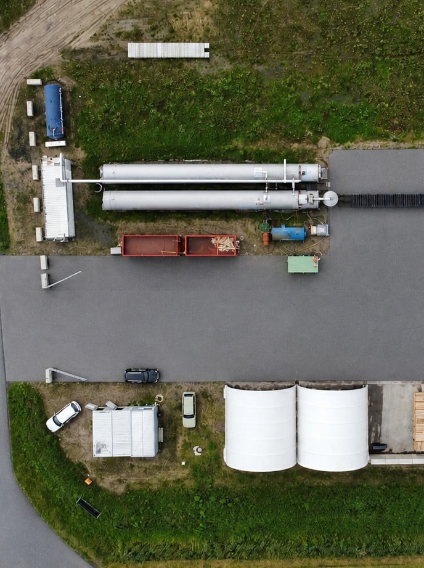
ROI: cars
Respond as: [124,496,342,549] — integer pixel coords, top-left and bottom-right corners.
[180,391,197,428]
[125,367,160,385]
[46,400,82,432]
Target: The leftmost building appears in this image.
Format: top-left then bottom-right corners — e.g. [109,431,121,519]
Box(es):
[89,402,116,456]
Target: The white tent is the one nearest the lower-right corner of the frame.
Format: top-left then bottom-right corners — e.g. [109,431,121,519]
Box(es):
[298,386,369,472]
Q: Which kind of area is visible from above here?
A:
industrial area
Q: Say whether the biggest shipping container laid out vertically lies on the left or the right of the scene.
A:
left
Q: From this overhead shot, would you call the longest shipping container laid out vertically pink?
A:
No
